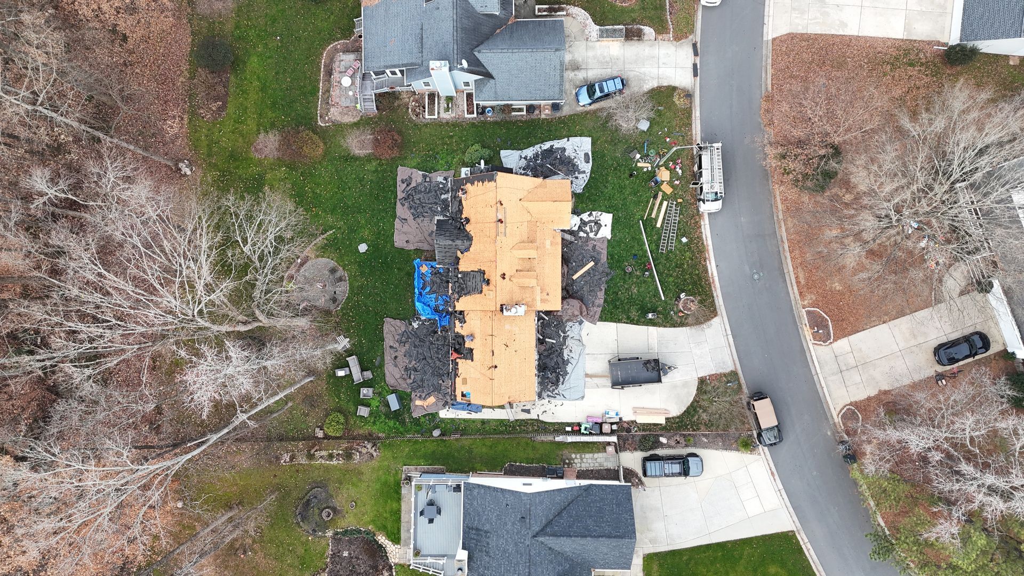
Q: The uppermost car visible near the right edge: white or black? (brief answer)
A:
black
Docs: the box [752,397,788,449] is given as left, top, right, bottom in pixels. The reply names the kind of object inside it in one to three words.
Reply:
vehicle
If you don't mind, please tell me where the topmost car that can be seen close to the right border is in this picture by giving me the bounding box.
[935,332,996,367]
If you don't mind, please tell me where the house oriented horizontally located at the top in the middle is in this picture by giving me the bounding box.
[361,0,566,106]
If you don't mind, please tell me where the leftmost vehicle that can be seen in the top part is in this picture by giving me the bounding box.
[575,72,629,106]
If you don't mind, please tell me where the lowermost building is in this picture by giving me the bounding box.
[455,476,636,576]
